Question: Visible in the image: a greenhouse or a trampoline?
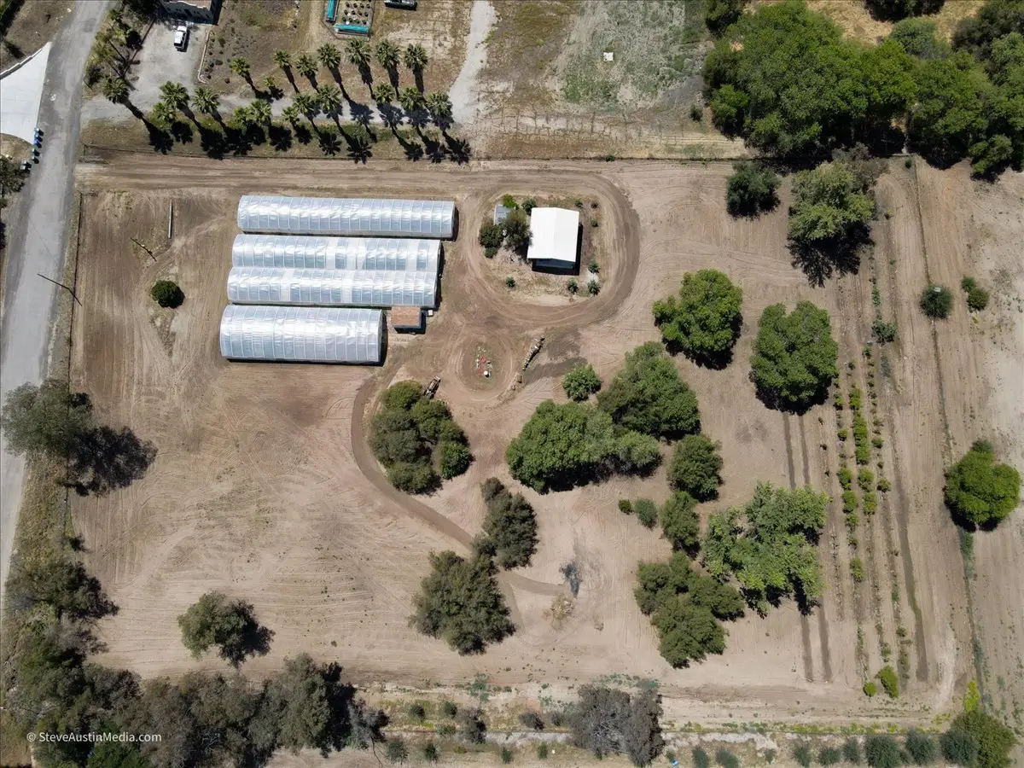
greenhouse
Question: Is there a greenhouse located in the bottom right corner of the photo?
No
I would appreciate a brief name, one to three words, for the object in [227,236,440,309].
greenhouse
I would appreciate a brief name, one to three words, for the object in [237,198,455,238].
greenhouse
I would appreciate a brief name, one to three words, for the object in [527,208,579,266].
house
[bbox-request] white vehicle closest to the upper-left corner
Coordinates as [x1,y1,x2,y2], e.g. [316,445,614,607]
[174,25,188,49]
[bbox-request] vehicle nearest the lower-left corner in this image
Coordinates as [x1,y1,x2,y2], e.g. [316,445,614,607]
[425,375,443,399]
